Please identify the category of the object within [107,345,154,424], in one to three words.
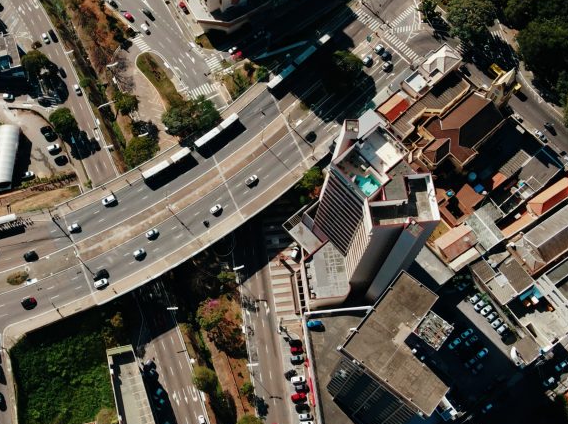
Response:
building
